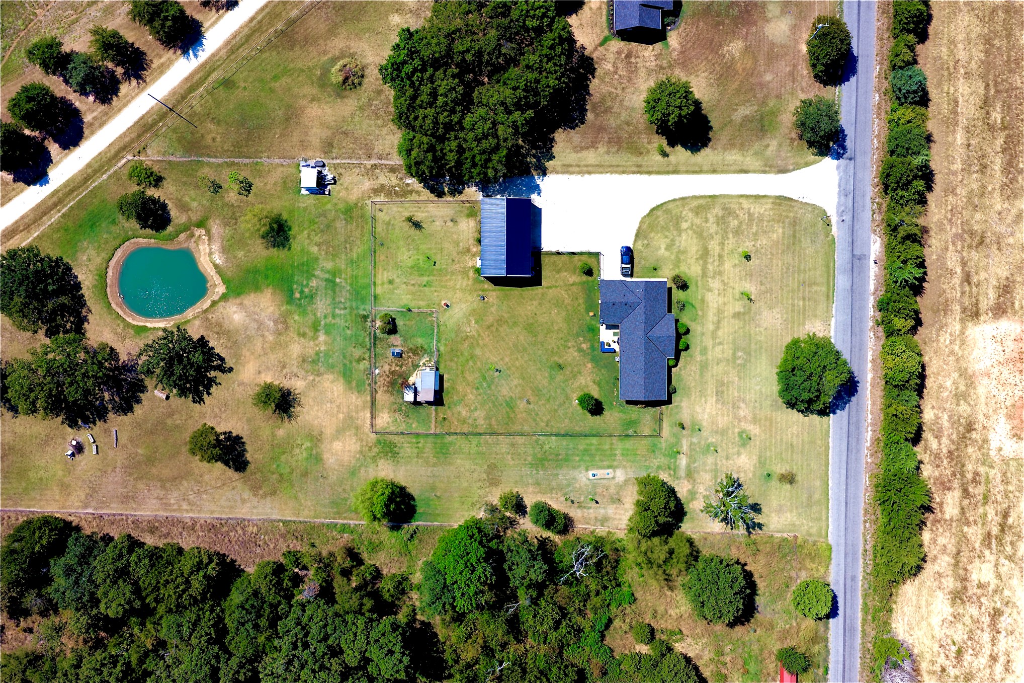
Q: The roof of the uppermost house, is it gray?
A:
No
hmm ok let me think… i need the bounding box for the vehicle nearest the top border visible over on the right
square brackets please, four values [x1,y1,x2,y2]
[620,246,633,277]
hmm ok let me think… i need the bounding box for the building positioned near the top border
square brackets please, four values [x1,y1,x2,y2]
[610,0,674,42]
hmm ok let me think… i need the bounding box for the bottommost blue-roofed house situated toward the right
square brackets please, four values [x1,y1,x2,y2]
[600,279,676,401]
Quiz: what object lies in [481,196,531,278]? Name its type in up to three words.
barn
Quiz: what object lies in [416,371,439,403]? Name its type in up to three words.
house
